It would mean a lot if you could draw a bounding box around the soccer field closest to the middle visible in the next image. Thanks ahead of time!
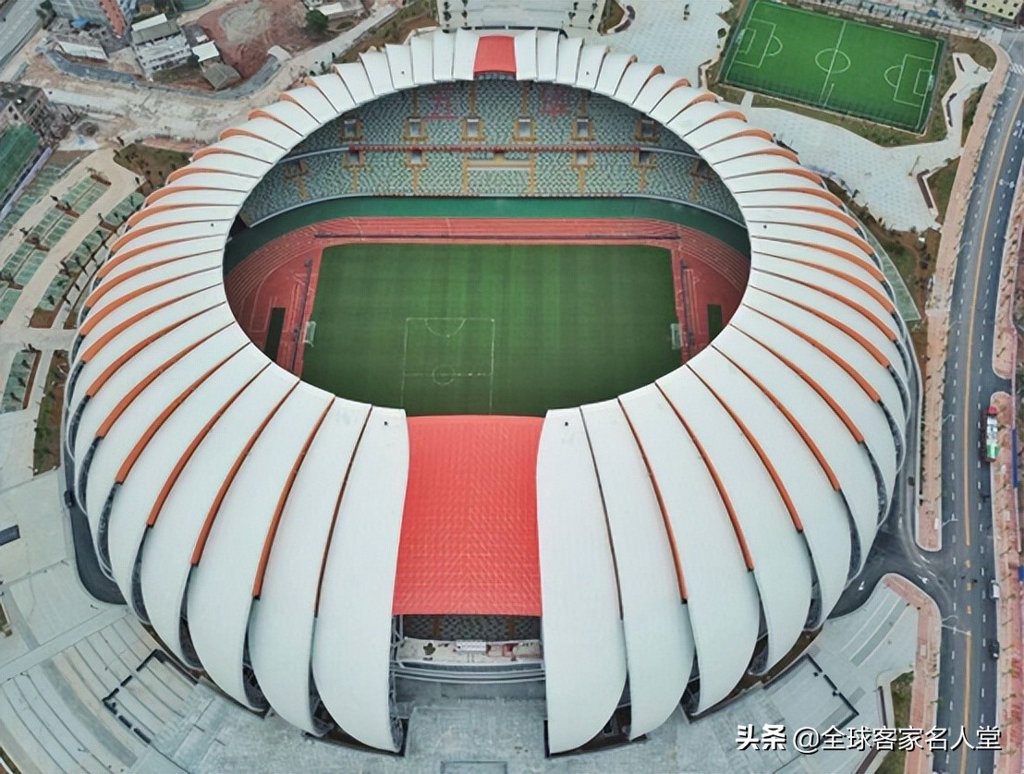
[298,242,696,450]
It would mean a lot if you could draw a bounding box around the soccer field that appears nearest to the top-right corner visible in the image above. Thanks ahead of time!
[713,0,947,132]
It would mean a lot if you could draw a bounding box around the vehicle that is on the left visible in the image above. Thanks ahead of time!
[61,487,73,509]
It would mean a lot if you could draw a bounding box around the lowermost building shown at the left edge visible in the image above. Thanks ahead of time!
[0,81,52,143]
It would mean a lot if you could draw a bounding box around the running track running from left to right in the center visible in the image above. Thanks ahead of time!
[152,202,838,477]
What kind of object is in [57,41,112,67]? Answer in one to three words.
shed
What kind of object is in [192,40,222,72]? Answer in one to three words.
house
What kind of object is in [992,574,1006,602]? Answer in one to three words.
vehicle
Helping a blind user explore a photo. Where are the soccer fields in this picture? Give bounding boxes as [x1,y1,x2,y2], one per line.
[713,0,947,132]
[298,242,696,450]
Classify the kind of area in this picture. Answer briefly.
sports ground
